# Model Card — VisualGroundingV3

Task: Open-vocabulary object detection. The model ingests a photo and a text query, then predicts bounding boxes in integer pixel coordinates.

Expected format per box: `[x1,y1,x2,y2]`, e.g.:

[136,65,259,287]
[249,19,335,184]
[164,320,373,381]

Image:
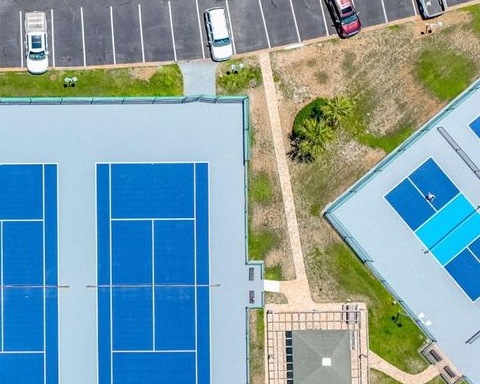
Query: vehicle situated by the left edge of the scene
[24,11,50,75]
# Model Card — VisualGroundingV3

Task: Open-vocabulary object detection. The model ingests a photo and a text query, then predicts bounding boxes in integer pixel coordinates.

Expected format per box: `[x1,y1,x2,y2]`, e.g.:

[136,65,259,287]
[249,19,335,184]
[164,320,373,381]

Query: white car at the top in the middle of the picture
[203,8,233,62]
